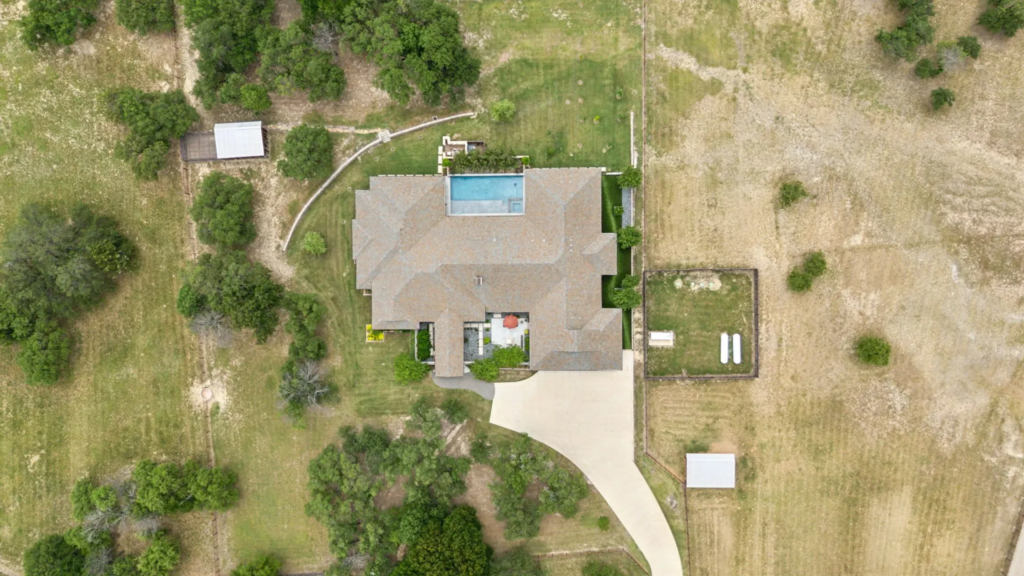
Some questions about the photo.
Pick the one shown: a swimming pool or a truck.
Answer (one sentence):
The image shows a swimming pool.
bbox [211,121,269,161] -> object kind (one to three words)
shed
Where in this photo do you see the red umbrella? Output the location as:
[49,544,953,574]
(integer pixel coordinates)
[504,315,517,329]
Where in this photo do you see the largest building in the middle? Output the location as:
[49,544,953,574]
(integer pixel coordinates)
[351,168,623,377]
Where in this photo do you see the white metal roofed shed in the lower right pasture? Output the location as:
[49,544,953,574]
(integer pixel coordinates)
[684,451,738,490]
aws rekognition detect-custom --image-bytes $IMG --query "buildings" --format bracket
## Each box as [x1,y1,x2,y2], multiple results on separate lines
[351,168,623,377]
[211,121,269,161]
[684,451,738,490]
